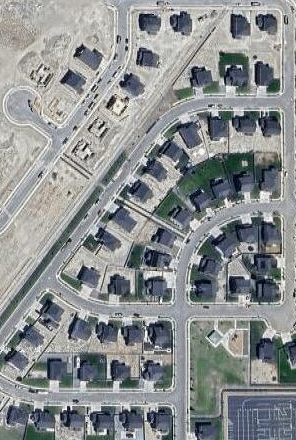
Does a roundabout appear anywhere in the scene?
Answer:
No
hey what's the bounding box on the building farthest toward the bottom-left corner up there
[7,404,28,427]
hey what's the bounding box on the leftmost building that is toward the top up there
[63,67,85,94]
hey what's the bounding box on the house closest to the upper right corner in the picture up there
[257,14,276,33]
